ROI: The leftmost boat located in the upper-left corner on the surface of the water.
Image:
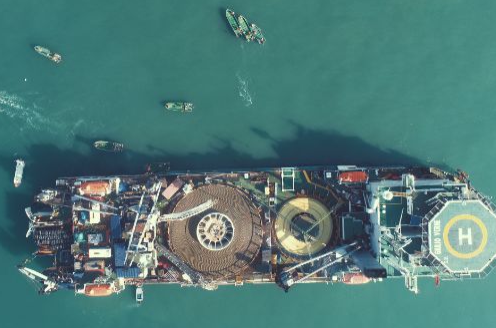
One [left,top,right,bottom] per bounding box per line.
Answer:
[32,45,62,64]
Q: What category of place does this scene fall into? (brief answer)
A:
port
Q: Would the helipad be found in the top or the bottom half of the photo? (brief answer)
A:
bottom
